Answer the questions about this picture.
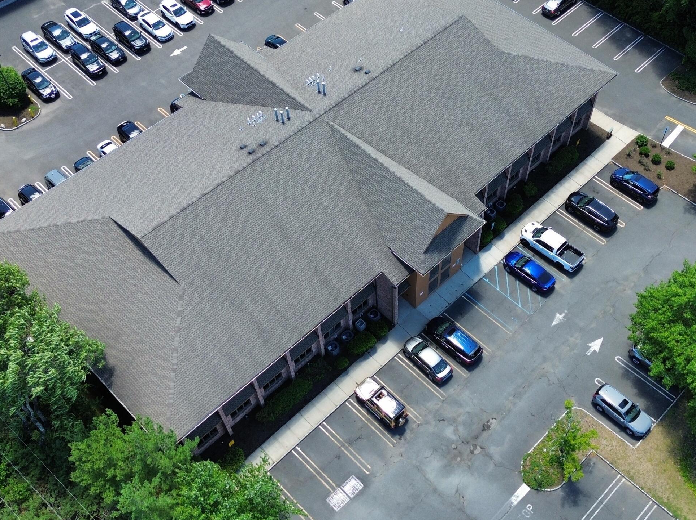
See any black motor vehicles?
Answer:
Yes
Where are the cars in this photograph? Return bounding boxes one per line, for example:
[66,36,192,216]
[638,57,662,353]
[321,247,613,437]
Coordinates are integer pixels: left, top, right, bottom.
[168,103,178,112]
[93,138,116,156]
[106,0,141,19]
[627,337,662,378]
[542,0,576,16]
[422,316,483,370]
[89,32,128,63]
[69,157,89,172]
[589,386,651,441]
[39,21,76,52]
[155,0,194,29]
[135,11,173,41]
[0,199,12,217]
[67,42,106,77]
[60,5,99,39]
[606,164,659,203]
[565,192,620,236]
[180,0,213,15]
[18,30,56,63]
[111,17,150,52]
[401,337,456,388]
[40,167,65,188]
[263,35,285,49]
[503,252,557,296]
[13,183,39,204]
[22,70,59,103]
[114,120,140,141]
